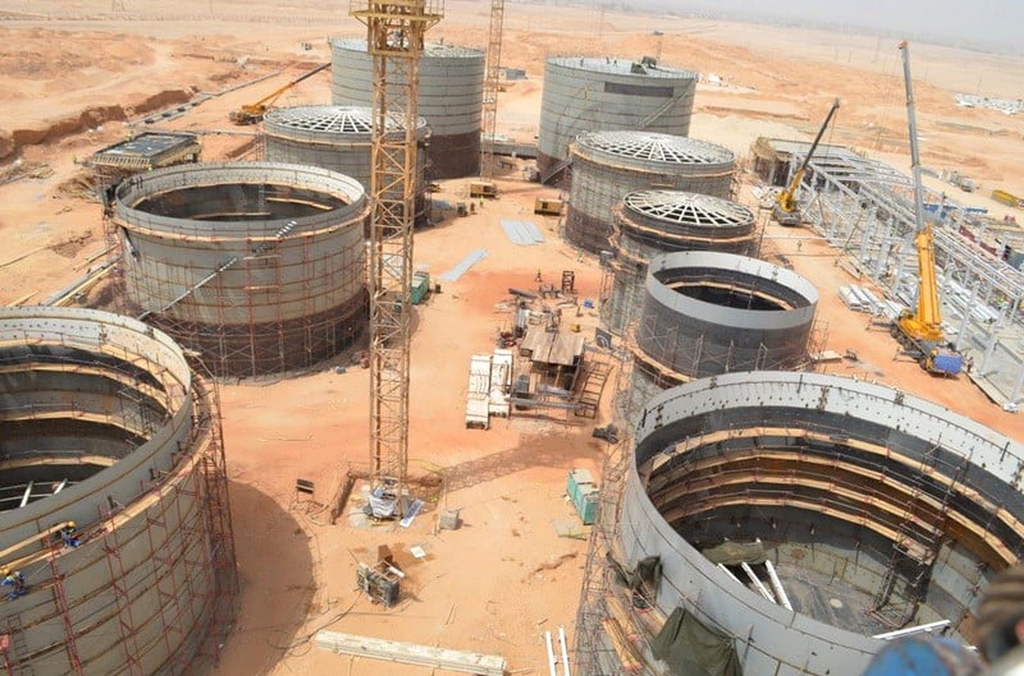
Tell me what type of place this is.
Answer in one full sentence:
This image shows an industrial area.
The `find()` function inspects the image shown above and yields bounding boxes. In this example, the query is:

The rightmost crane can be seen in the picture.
[865,41,969,373]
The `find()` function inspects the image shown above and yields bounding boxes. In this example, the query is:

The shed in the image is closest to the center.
[521,328,586,392]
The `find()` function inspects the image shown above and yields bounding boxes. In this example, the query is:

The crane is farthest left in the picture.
[222,66,326,123]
